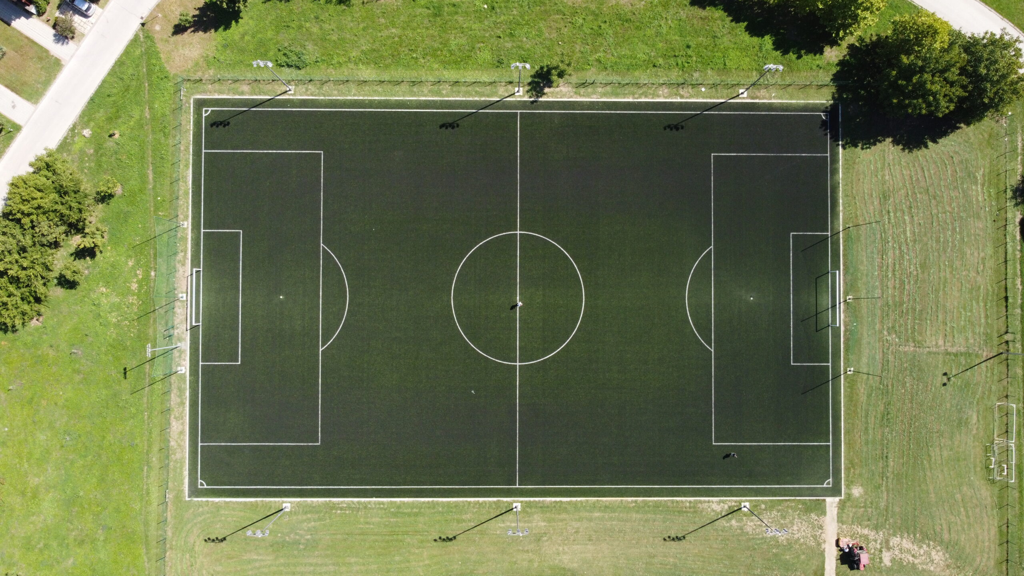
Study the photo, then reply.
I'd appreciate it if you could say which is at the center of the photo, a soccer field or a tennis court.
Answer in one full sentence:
The one visible at the center of the photo is a soccer field.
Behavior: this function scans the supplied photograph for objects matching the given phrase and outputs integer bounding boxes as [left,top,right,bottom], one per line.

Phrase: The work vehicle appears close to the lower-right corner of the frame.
[837,536,872,567]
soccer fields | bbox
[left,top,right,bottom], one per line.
[187,97,843,500]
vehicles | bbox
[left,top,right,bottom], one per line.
[64,0,97,17]
[837,536,872,567]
